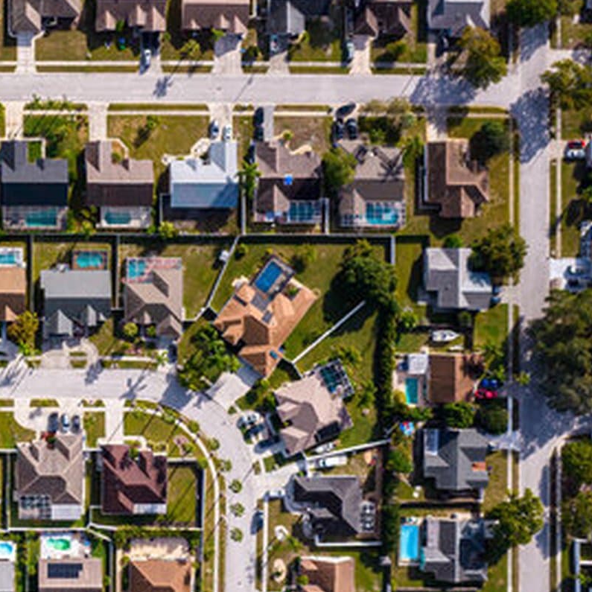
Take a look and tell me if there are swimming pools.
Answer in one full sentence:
Yes, I can see a swimming pool in this picture.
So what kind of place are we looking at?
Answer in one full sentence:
What you see here is a residential area.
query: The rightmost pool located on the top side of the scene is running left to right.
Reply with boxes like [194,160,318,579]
[340,201,407,227]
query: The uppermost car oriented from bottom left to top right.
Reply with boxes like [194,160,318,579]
[336,101,355,117]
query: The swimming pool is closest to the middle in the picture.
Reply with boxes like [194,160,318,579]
[250,242,298,294]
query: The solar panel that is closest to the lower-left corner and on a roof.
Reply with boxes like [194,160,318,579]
[48,564,80,582]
